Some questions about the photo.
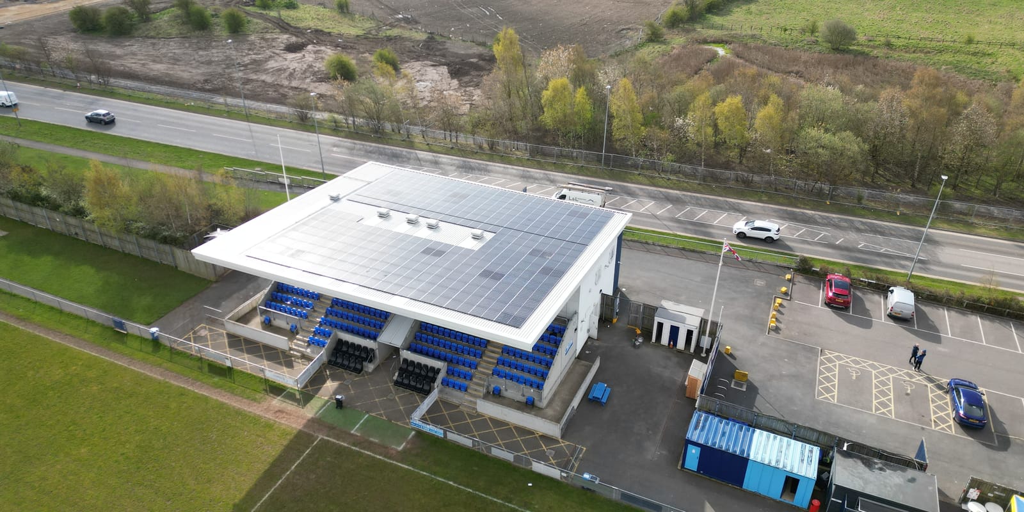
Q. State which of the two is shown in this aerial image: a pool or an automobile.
automobile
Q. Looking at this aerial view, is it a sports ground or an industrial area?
sports ground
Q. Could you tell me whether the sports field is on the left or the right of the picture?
left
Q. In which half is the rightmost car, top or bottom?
bottom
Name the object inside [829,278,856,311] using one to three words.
car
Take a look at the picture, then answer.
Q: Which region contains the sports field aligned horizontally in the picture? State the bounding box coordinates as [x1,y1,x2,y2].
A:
[0,288,641,512]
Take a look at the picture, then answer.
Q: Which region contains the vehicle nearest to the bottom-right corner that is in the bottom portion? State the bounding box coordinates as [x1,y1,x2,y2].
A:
[951,380,997,434]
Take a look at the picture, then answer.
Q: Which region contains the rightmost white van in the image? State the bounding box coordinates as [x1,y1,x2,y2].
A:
[888,287,921,323]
